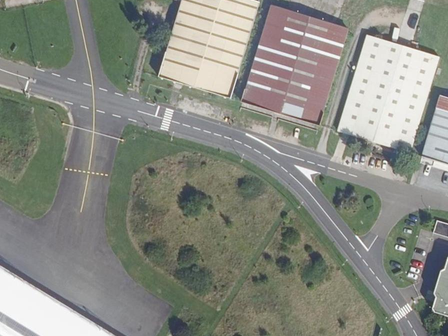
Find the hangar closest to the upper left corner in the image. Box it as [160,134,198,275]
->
[158,0,260,97]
